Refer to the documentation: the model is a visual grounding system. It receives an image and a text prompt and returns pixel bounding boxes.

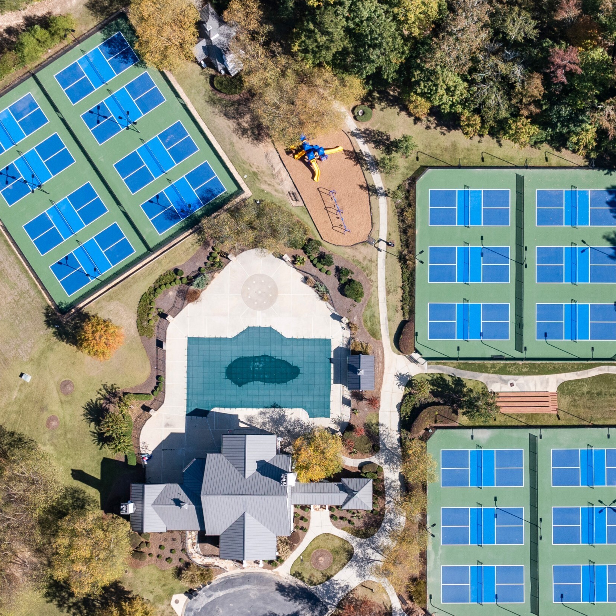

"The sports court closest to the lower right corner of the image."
[553,563,616,605]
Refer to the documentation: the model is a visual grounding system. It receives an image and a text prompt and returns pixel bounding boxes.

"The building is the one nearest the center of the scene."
[348,355,375,390]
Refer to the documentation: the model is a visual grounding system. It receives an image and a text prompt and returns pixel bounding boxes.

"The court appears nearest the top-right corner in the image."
[536,187,616,229]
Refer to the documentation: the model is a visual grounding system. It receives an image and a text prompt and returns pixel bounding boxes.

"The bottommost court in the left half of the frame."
[48,222,136,297]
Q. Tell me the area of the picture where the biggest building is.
bottom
